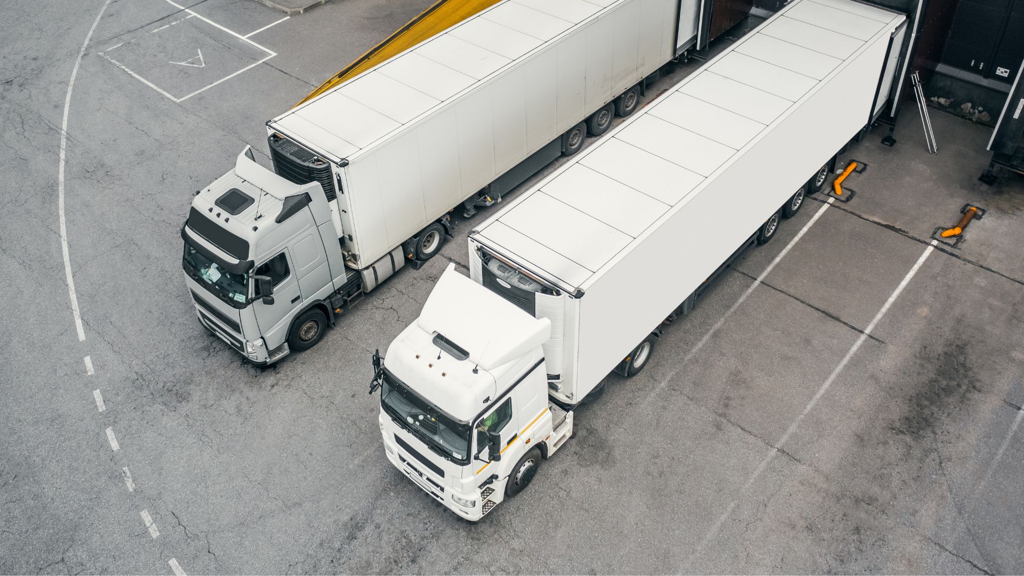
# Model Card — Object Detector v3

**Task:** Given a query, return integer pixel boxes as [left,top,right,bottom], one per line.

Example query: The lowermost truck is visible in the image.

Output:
[360,264,657,519]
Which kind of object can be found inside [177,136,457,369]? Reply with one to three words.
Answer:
truck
